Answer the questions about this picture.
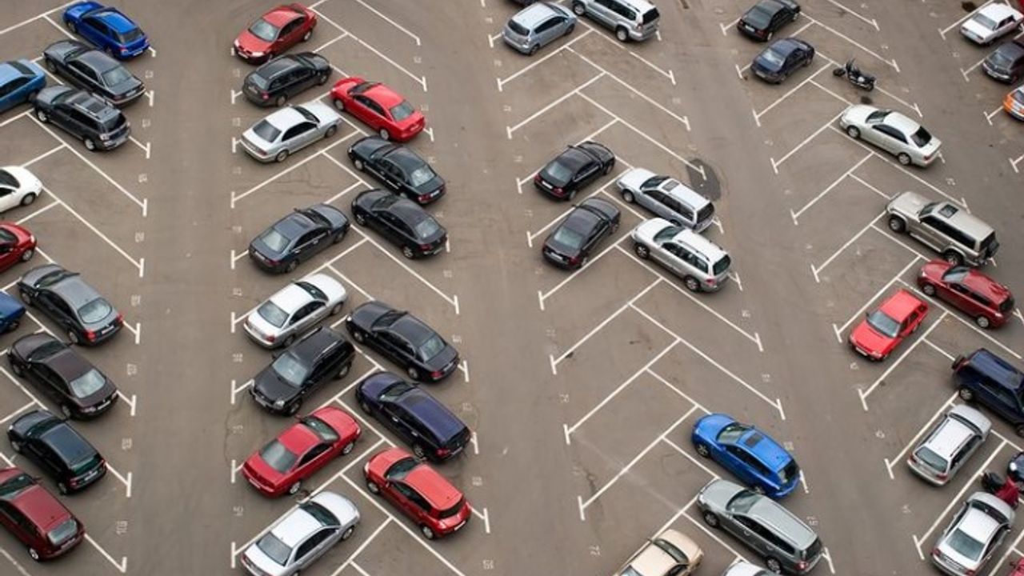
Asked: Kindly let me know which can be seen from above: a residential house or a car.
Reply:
car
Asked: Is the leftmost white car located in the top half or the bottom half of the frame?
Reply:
top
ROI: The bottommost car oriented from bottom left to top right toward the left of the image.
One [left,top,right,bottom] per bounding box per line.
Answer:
[238,489,364,576]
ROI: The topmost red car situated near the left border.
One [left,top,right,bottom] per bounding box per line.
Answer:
[0,221,39,271]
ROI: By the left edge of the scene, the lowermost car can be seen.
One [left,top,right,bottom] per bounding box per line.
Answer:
[0,470,85,571]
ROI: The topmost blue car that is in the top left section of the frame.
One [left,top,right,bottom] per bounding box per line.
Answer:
[63,2,150,61]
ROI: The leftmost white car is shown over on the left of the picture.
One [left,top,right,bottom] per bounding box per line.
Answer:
[0,168,40,216]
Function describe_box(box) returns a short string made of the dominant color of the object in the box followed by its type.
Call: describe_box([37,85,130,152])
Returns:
gray car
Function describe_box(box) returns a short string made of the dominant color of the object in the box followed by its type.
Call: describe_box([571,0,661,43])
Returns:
gray car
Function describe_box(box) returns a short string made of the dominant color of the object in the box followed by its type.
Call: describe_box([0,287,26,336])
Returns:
blue car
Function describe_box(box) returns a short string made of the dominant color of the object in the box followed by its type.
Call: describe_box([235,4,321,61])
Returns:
red car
